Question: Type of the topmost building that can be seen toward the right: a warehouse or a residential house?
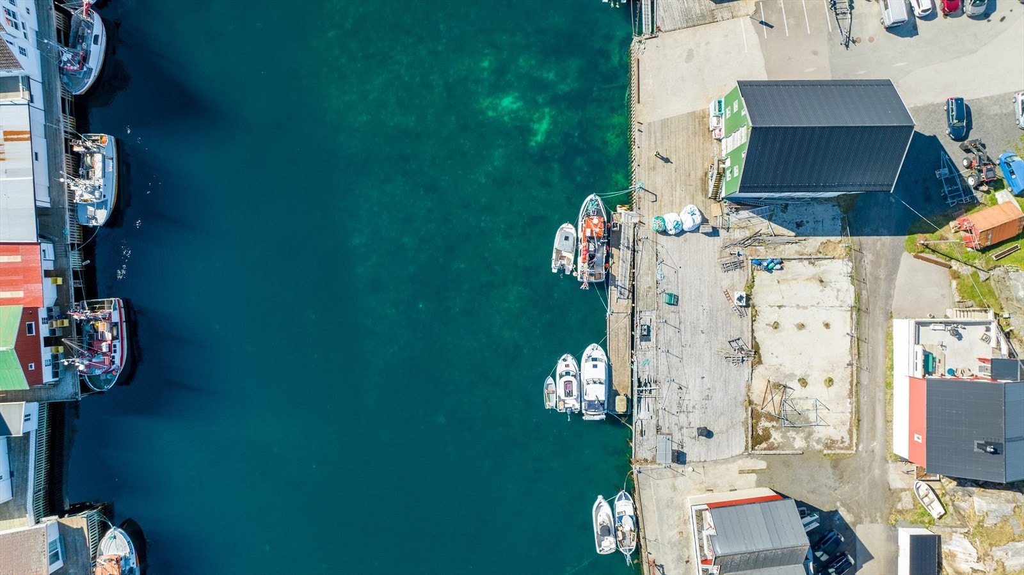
warehouse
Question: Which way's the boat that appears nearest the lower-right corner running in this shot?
at an angle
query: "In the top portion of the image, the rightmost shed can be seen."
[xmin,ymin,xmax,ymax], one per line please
[959,199,1024,248]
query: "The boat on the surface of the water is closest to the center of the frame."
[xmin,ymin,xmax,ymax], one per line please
[552,224,578,276]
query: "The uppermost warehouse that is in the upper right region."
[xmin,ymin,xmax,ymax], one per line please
[707,78,915,201]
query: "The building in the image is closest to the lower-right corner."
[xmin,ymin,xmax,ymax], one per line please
[898,528,938,575]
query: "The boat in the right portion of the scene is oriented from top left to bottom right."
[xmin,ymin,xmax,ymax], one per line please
[915,482,945,519]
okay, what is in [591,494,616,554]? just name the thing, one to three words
boat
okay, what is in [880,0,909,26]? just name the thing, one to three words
vehicle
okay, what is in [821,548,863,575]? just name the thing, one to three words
car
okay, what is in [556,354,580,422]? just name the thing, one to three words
boat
